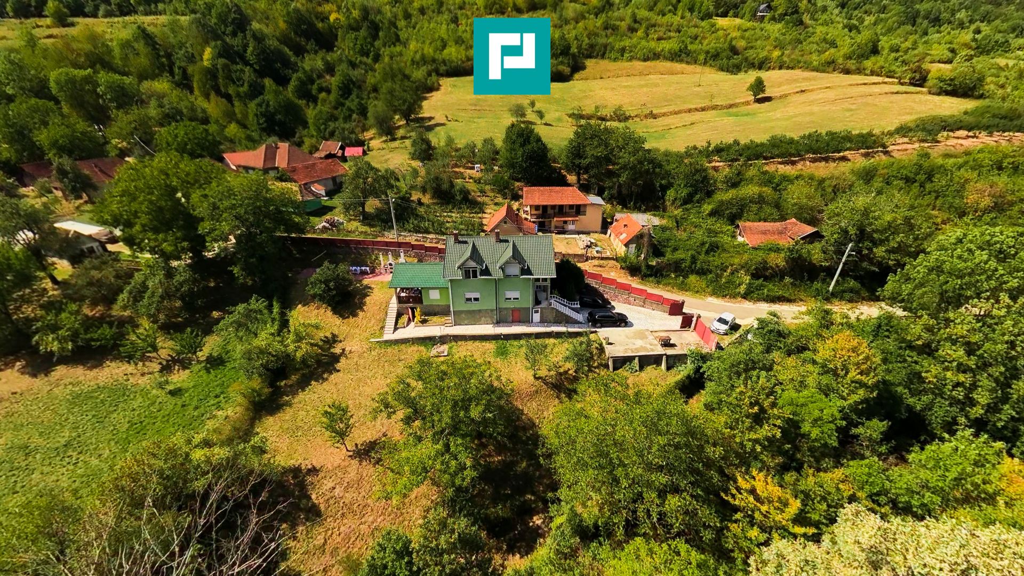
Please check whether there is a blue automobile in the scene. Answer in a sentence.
No, no blue automobile can be seen from above.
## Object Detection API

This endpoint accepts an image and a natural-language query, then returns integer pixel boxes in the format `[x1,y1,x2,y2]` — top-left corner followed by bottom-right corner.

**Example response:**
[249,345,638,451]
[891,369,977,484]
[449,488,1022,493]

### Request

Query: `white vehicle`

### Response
[710,308,733,334]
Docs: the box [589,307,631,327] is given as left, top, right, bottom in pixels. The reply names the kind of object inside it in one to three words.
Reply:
car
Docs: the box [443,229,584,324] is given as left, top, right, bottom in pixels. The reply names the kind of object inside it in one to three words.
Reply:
building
